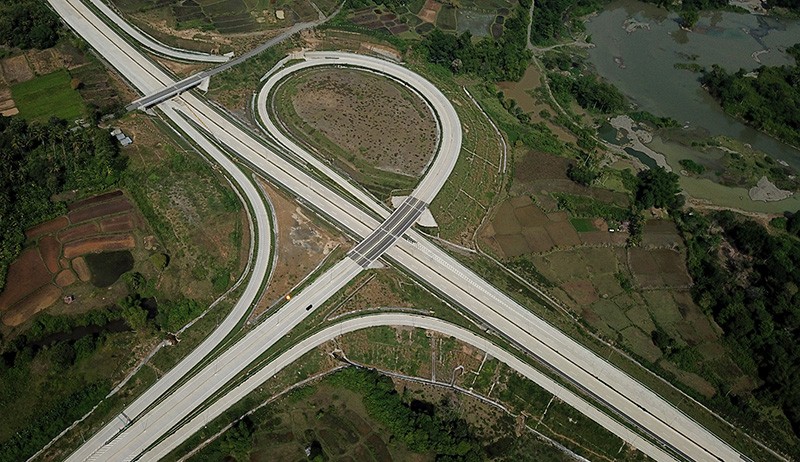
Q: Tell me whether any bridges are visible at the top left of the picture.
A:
Yes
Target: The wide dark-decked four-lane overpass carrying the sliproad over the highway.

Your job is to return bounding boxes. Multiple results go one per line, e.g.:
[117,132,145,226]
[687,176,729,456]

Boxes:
[341,195,438,269]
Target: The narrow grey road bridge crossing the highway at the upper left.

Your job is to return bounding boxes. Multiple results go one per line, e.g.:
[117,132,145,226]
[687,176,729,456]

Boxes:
[128,76,209,117]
